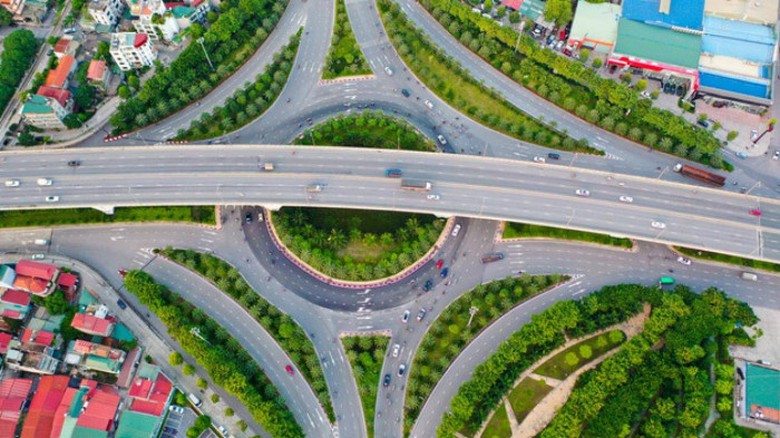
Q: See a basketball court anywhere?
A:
No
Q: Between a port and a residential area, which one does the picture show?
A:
residential area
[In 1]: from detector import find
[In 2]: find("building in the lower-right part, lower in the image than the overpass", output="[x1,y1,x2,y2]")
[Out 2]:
[743,363,780,427]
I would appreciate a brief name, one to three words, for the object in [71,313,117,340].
house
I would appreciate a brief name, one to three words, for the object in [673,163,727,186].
truck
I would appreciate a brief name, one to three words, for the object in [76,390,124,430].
building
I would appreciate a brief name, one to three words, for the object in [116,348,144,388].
shed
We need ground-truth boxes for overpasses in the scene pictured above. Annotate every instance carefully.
[0,145,780,263]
